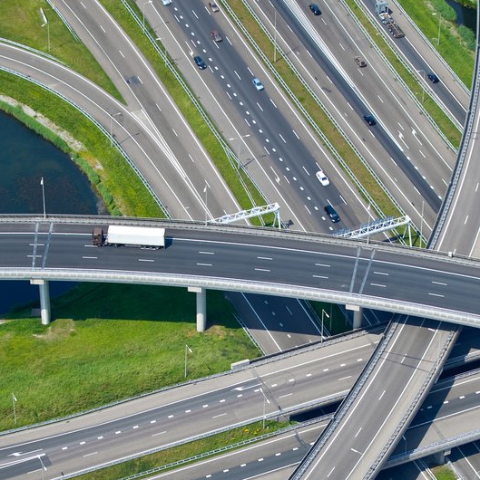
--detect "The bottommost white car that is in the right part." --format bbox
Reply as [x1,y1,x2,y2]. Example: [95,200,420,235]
[315,172,329,184]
